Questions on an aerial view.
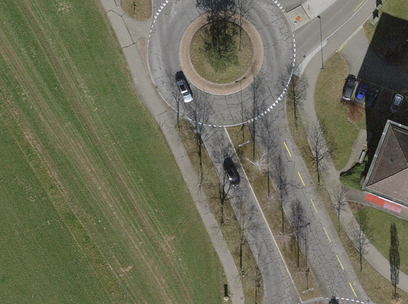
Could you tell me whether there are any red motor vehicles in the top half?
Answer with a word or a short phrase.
No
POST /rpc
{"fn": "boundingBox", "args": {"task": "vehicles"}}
[177,79,194,103]
[355,82,368,103]
[342,78,356,102]
[224,162,240,185]
[390,92,404,114]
